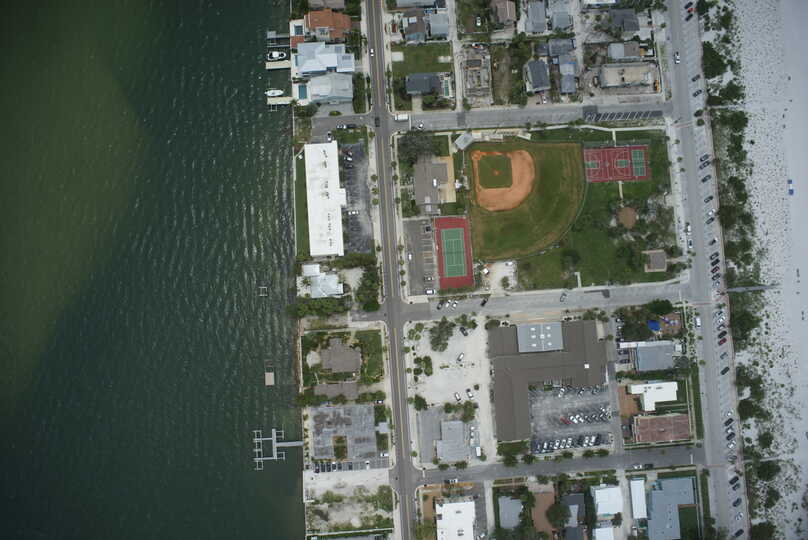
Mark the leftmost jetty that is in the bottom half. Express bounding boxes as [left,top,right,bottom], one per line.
[253,429,304,461]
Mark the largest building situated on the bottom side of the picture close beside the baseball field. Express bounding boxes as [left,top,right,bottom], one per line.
[488,321,608,441]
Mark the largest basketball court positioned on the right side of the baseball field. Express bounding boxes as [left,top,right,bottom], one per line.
[585,146,634,182]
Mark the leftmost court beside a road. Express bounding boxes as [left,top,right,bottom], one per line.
[434,216,476,291]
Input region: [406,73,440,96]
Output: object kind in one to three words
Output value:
house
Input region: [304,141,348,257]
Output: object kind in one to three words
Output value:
building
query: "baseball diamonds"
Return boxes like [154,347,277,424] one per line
[468,141,587,264]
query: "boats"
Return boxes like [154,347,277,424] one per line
[265,89,285,96]
[267,52,286,60]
